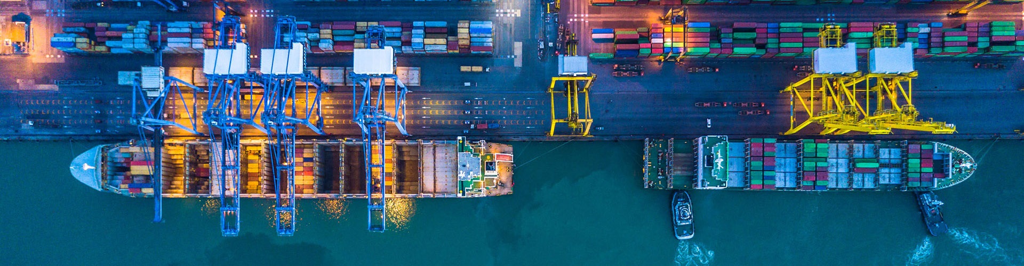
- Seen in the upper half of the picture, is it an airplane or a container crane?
container crane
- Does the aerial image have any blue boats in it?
Yes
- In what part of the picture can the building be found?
top left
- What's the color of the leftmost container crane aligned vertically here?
blue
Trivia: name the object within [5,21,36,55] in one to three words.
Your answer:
building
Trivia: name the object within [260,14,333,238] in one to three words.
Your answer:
container crane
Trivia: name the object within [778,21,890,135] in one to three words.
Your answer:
container crane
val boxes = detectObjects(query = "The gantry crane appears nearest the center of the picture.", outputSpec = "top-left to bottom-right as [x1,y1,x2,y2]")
[542,33,593,135]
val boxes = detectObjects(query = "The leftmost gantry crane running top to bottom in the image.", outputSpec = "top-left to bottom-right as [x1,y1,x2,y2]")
[127,23,210,221]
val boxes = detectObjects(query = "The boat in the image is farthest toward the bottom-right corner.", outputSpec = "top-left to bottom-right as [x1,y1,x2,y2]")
[916,191,946,238]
